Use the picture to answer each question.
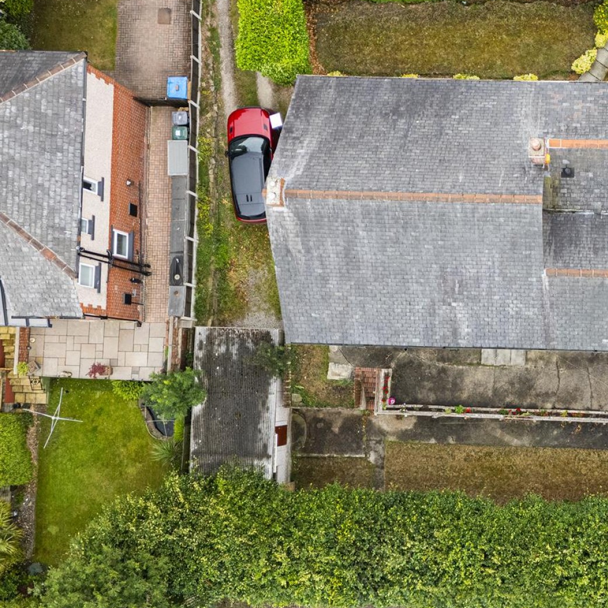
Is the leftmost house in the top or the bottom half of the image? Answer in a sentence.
The top half of the photo is where the leftmost house is.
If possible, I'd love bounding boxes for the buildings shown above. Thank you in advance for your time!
[0,49,149,326]
[188,326,295,482]
[262,74,608,352]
